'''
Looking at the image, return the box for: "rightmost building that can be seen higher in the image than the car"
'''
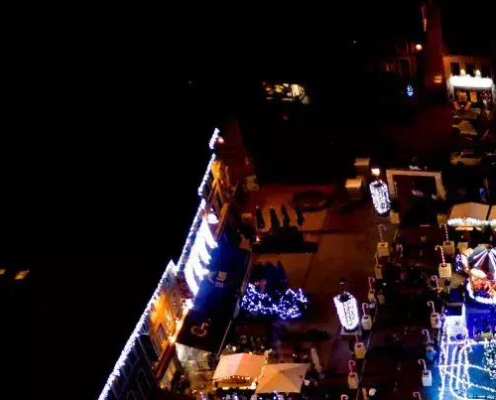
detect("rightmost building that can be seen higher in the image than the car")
[439,14,496,106]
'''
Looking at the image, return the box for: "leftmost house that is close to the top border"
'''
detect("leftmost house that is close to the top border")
[228,15,338,112]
